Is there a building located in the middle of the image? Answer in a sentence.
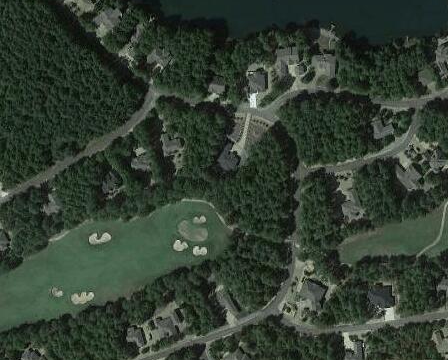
Yes, I can see a building in the middle of the image.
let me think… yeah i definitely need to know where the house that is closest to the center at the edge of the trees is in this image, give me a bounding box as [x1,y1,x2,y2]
[216,143,242,172]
